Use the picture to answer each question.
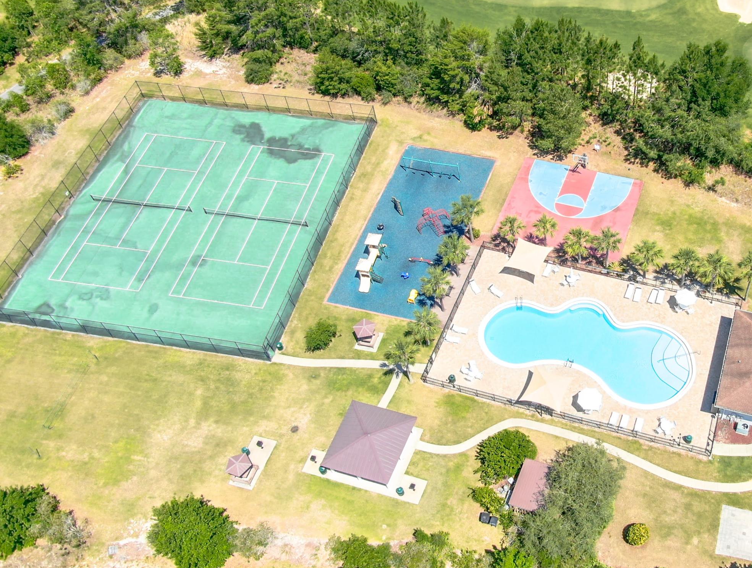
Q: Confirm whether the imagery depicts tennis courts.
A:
Yes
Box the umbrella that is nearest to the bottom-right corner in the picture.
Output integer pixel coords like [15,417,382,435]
[576,389,603,412]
